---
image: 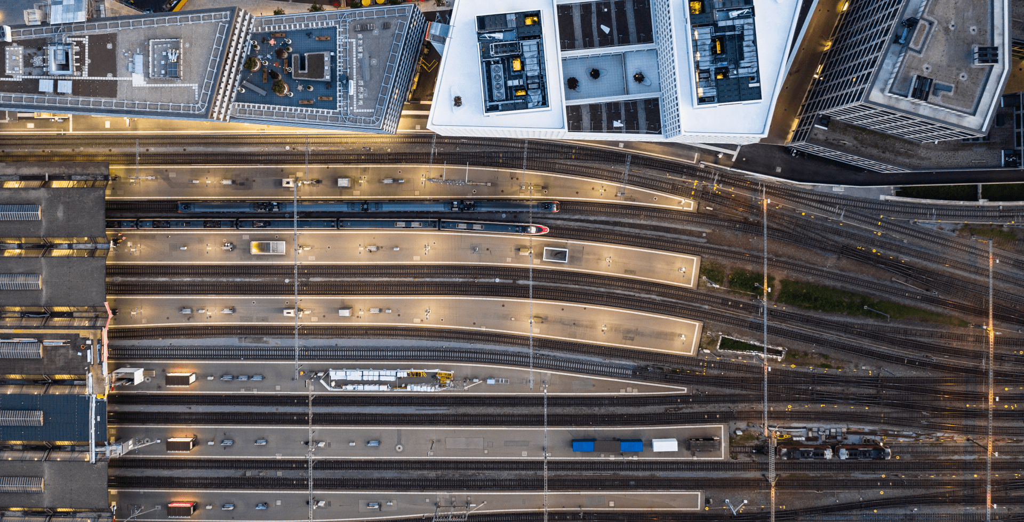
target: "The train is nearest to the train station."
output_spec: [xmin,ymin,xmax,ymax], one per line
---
[106,218,549,235]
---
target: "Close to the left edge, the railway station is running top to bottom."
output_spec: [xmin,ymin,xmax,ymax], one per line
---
[0,162,111,522]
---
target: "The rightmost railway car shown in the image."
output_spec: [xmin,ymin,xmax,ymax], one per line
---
[831,445,889,459]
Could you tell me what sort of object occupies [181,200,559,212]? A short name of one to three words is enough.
train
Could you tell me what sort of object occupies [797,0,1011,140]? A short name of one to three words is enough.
building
